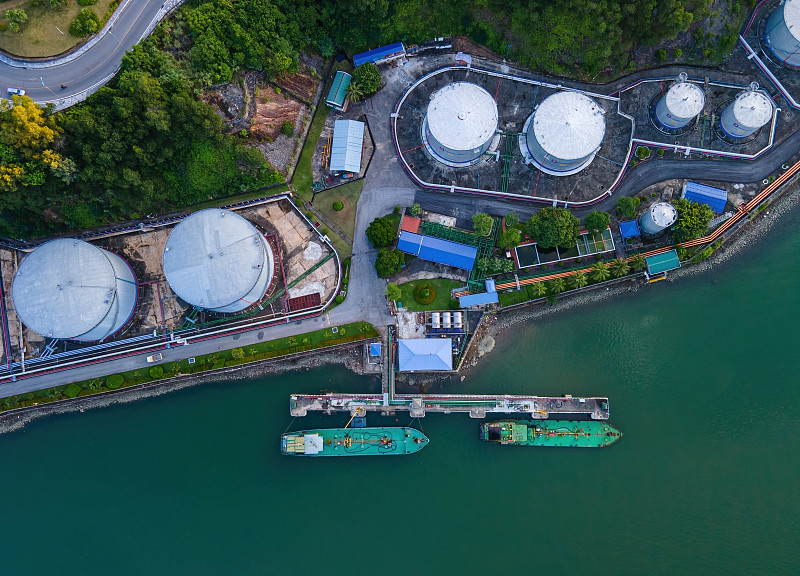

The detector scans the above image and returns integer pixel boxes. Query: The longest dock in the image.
[290,395,609,420]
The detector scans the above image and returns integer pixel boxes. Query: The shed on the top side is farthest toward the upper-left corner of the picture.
[327,71,352,109]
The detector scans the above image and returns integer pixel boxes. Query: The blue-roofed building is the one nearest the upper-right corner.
[679,180,727,215]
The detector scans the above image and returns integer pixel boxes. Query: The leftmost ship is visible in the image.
[281,427,430,456]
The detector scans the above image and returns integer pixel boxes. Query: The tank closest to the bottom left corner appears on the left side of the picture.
[11,236,144,346]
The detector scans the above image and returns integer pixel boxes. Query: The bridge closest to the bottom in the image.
[382,323,397,403]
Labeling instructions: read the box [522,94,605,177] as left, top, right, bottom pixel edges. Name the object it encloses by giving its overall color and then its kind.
white storage tank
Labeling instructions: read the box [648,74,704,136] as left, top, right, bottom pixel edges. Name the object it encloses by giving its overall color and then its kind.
white storage tank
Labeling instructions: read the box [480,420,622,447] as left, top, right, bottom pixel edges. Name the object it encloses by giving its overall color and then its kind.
green ship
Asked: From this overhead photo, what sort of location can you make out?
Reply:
industrial area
